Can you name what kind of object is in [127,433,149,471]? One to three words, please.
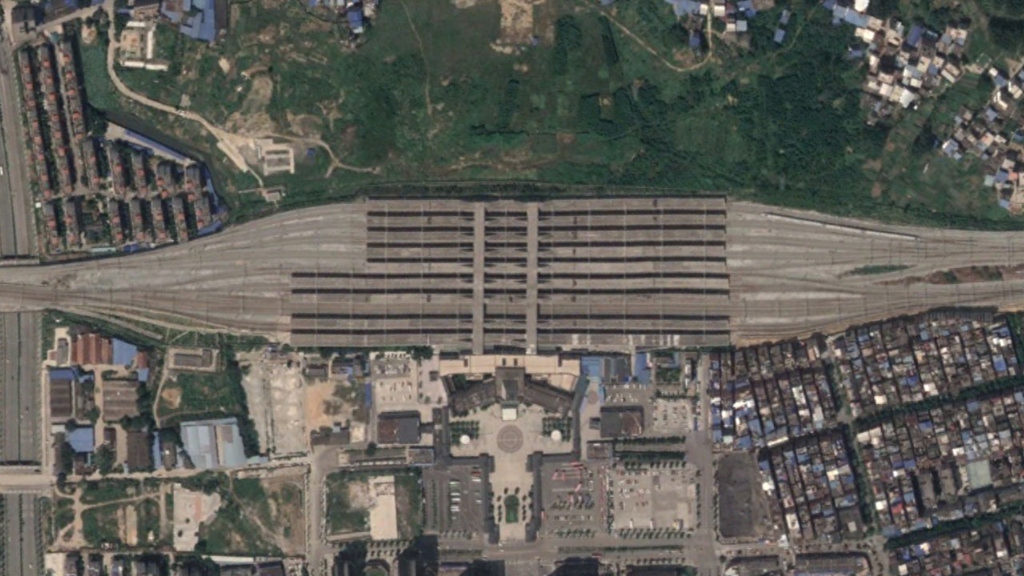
building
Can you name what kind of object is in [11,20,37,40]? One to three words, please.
house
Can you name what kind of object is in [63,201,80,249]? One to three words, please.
building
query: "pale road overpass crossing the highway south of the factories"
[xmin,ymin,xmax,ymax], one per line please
[0,466,67,492]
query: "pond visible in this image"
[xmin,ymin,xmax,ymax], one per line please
[83,41,126,110]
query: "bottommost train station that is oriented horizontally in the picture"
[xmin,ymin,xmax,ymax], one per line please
[439,355,581,420]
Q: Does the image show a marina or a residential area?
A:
residential area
